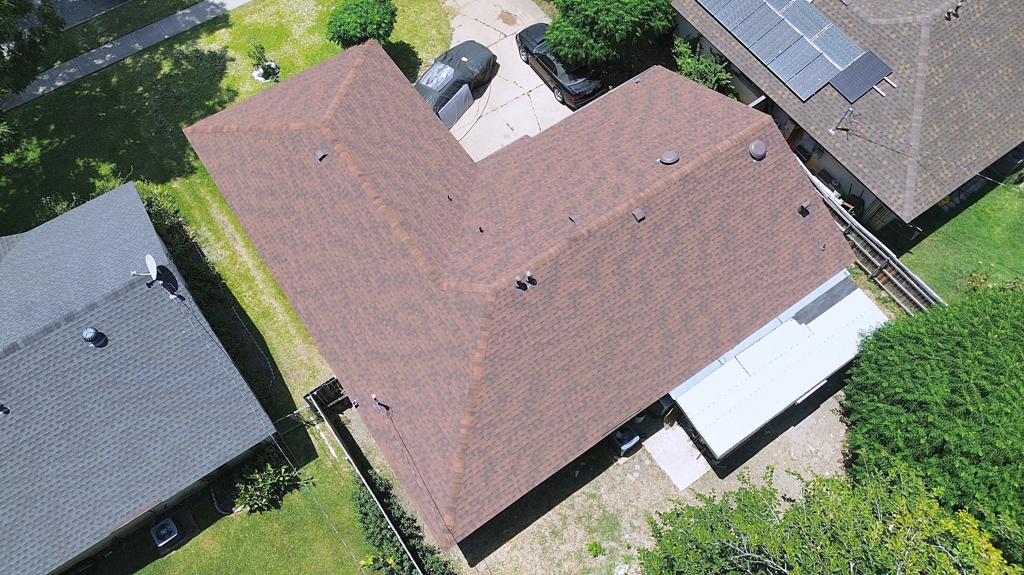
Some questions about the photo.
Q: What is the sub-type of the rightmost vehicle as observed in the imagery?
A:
car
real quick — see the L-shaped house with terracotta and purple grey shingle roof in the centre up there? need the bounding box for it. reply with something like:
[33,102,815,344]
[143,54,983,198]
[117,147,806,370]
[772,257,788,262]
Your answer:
[183,37,855,555]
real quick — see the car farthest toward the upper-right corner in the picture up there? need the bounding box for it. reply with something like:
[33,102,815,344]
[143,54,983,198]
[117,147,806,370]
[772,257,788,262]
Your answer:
[514,19,611,109]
